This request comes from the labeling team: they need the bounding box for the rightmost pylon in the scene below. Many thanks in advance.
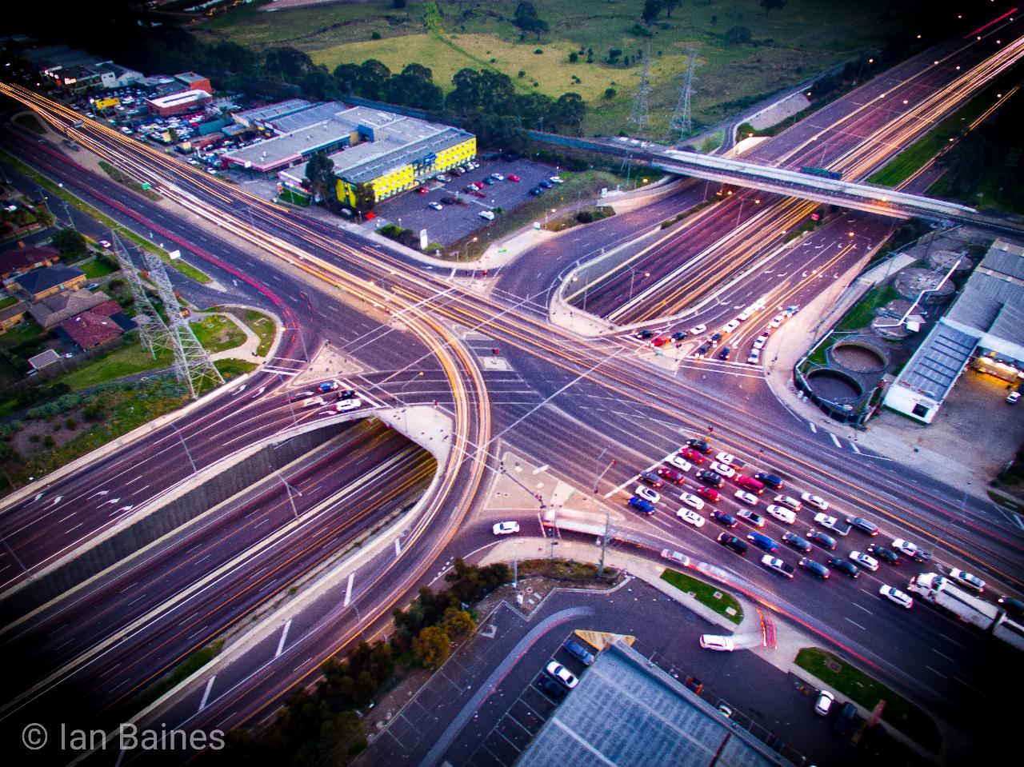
[663,45,704,138]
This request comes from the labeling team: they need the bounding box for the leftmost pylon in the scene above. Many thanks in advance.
[96,228,182,364]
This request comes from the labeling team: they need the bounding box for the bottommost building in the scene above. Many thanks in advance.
[528,637,800,767]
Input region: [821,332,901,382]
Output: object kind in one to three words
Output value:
storage tank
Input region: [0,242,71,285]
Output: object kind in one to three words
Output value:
house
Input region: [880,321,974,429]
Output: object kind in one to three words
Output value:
building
